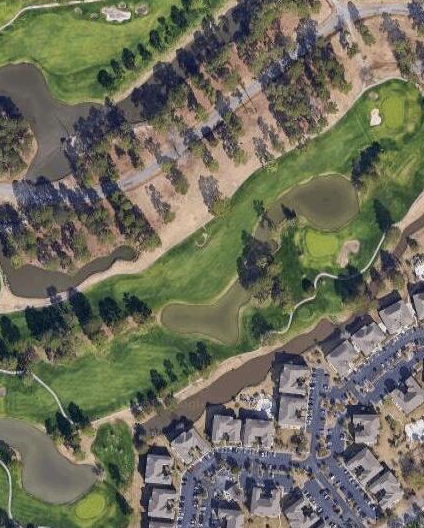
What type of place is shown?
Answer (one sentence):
What you see here is a golf course.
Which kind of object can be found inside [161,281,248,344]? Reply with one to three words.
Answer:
pond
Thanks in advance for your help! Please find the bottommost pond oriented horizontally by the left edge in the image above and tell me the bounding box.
[0,239,137,297]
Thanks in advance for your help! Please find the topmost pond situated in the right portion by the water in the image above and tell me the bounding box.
[254,174,359,249]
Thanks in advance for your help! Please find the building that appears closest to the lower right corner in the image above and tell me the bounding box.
[367,470,405,509]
